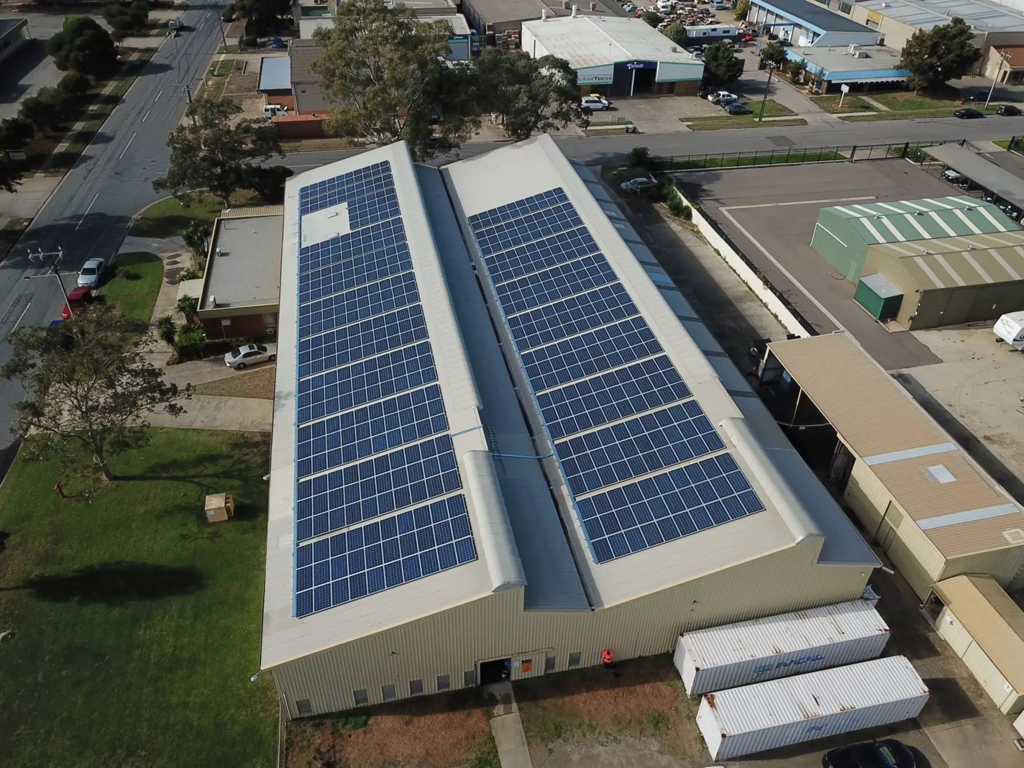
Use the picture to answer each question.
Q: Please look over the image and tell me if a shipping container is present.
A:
Yes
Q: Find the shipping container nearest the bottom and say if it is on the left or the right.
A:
right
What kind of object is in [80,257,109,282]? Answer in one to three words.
car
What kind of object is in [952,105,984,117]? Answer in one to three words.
vehicle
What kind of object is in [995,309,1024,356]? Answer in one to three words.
camper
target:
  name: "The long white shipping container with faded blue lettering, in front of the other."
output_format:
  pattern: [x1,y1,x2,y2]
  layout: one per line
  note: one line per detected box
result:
[697,654,930,761]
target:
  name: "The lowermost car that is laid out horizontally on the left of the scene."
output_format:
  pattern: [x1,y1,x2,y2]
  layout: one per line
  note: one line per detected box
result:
[229,340,275,366]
